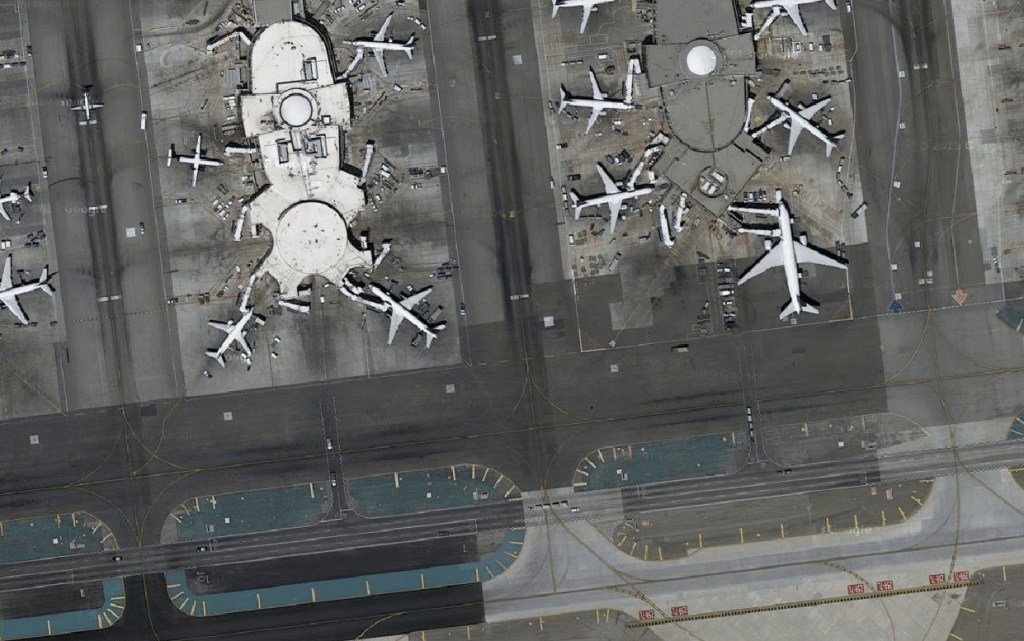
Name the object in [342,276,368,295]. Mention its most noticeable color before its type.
white jet bridge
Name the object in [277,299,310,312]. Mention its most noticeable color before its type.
white jet bridge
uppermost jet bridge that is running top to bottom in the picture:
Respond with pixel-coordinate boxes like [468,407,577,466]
[625,57,642,107]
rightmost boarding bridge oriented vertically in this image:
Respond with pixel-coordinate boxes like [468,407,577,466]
[742,94,757,134]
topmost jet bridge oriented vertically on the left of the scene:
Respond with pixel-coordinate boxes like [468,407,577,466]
[358,140,374,187]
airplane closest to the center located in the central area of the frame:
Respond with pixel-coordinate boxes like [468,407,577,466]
[370,285,445,348]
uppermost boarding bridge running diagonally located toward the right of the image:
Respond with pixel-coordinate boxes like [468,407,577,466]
[753,5,780,41]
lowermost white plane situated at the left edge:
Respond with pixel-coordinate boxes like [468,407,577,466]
[0,258,50,325]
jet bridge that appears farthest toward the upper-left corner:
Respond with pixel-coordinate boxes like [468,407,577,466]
[208,30,253,54]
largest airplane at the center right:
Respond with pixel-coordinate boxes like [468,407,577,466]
[739,199,848,318]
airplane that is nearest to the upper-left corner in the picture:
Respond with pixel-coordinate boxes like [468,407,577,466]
[71,88,104,120]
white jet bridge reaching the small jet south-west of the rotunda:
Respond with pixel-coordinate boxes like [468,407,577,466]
[241,272,258,313]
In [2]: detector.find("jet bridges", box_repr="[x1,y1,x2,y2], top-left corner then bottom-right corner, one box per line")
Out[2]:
[625,57,642,107]
[675,192,687,236]
[753,5,780,41]
[277,299,310,312]
[725,204,779,216]
[736,227,783,237]
[342,276,368,295]
[358,140,374,187]
[742,94,757,134]
[749,109,792,139]
[232,202,249,243]
[373,239,389,270]
[628,159,647,194]
[208,30,253,54]
[222,146,260,157]
[338,286,390,311]
[337,45,362,81]
[657,203,676,251]
[241,272,258,313]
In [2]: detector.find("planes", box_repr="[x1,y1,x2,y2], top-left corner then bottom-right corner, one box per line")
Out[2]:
[353,15,418,77]
[767,97,845,157]
[166,135,224,187]
[370,285,445,348]
[751,0,807,35]
[208,308,253,365]
[0,181,34,223]
[553,0,611,34]
[739,199,848,318]
[558,67,626,134]
[568,167,652,235]
[71,88,104,120]
[0,258,50,325]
